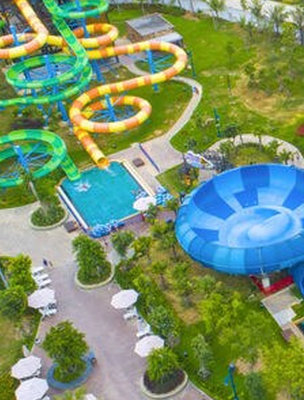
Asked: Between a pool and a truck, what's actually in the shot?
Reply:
pool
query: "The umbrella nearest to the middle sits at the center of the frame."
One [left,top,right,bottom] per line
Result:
[134,197,157,220]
